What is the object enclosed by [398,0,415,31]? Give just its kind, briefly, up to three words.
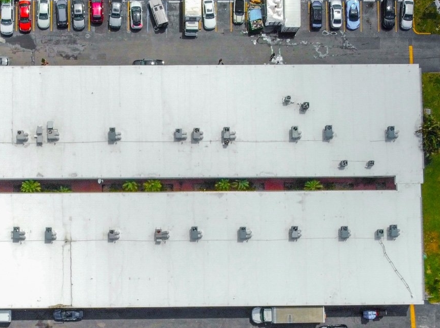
car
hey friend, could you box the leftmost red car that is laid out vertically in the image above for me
[16,0,32,34]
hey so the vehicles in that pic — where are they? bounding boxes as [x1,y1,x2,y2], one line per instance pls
[54,0,69,29]
[16,0,32,34]
[328,0,344,30]
[309,1,322,31]
[72,0,86,32]
[89,0,105,25]
[248,306,325,325]
[133,58,164,66]
[379,0,397,31]
[0,310,13,324]
[129,2,143,31]
[0,55,10,67]
[202,0,216,31]
[36,0,51,31]
[109,0,122,31]
[149,0,169,30]
[0,0,15,37]
[398,0,415,31]
[53,309,84,322]
[344,0,361,31]
[182,0,202,41]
